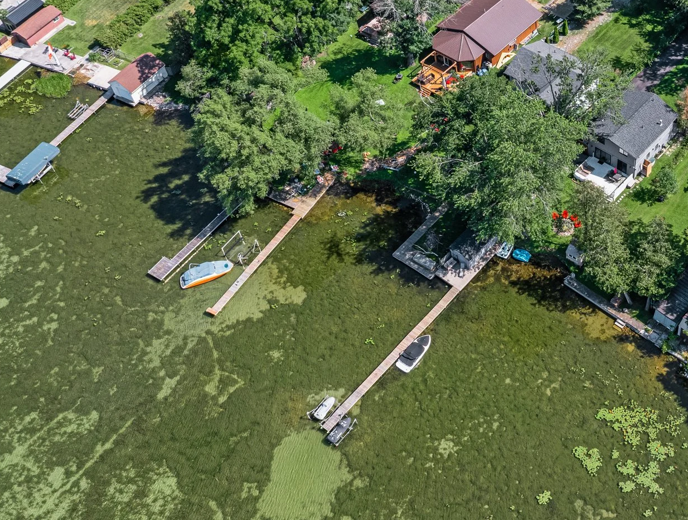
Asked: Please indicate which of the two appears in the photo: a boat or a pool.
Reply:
boat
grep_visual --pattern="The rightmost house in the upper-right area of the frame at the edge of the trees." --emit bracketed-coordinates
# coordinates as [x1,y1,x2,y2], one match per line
[589,92,678,175]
